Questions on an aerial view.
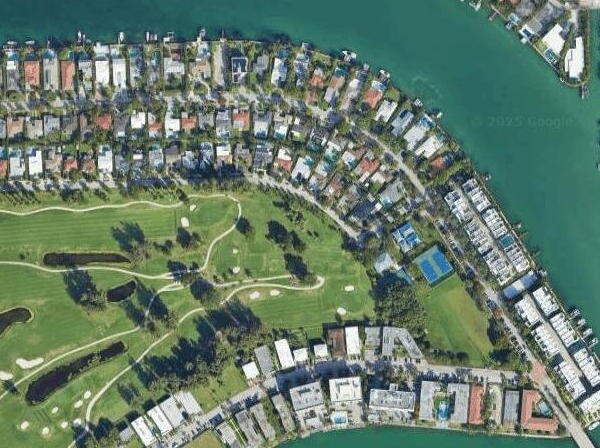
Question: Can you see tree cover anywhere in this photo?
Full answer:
Yes, some tree cover is visible.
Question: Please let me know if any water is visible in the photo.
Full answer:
Yes, there is water in the image.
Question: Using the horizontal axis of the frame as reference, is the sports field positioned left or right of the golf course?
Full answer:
Compared with the golf course, the sports field is located further to the right.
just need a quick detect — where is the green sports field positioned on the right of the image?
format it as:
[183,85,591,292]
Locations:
[417,273,493,364]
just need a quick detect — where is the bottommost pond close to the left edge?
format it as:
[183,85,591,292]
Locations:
[25,342,125,404]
